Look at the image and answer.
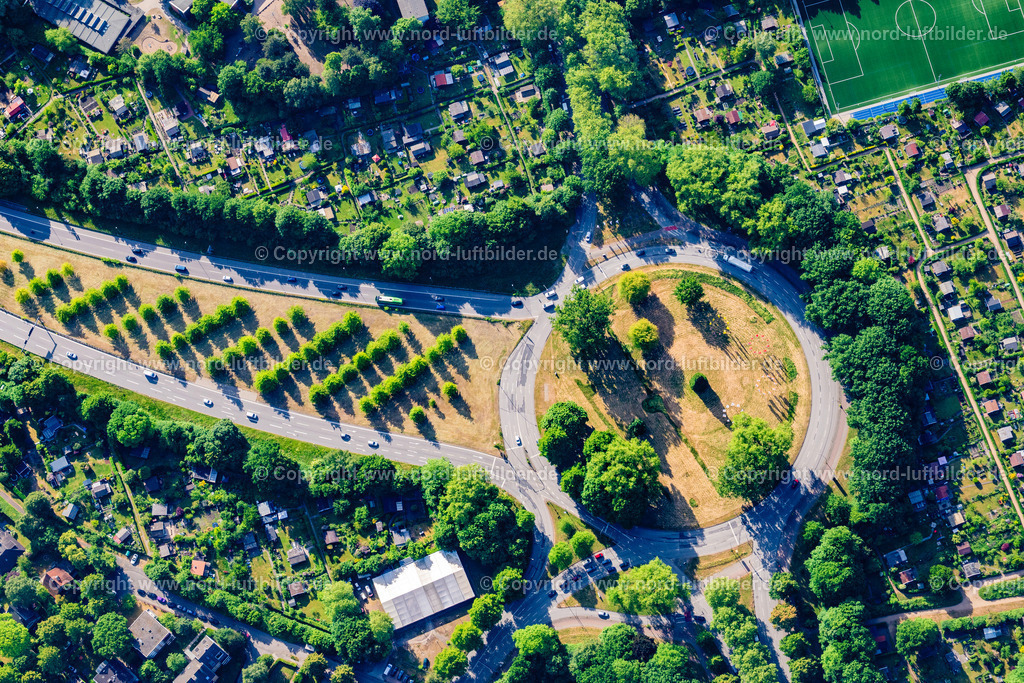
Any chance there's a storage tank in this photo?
No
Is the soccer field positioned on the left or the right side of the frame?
right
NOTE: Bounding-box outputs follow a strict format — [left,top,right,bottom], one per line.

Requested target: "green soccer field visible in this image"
[800,0,1024,114]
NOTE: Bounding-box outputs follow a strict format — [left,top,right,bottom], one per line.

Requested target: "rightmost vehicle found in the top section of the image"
[723,255,754,272]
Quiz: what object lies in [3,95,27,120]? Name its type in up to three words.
shed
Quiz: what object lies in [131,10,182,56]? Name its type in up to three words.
playground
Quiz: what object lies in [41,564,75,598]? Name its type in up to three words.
house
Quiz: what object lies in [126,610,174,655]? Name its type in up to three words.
building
